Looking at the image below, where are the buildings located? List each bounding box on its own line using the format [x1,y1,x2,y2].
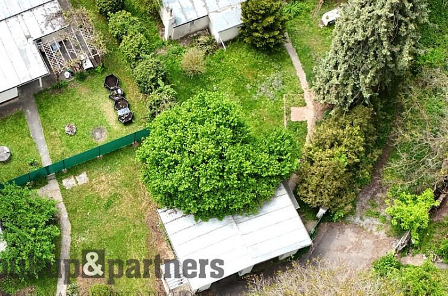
[153,0,254,49]
[156,185,314,296]
[0,0,68,105]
